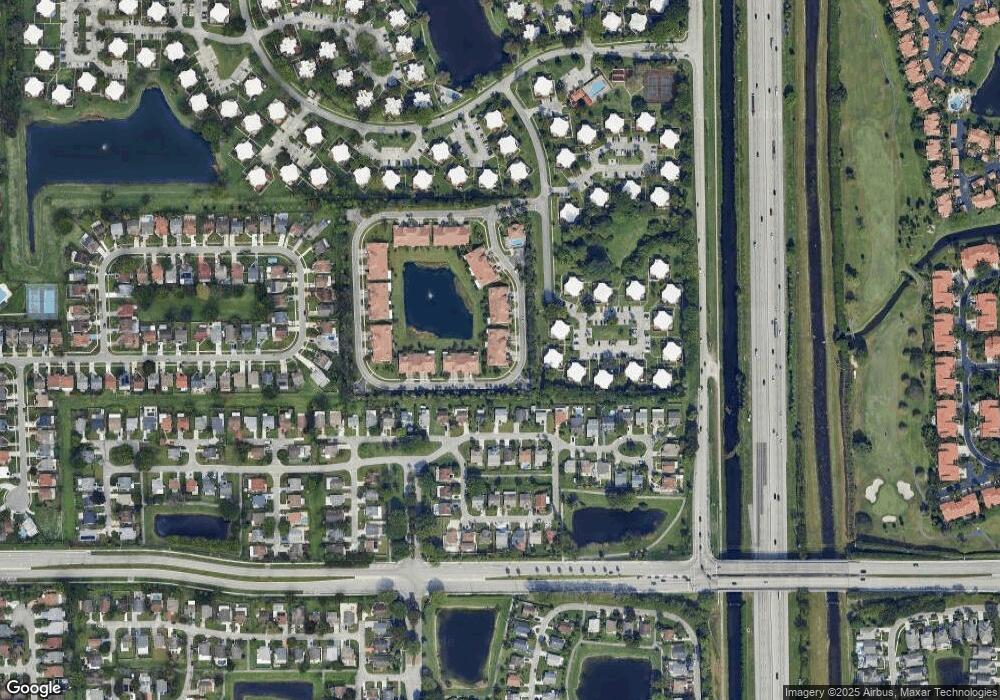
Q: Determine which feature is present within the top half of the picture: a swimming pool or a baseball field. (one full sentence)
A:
What appears within the top half of the picture is a swimming pool.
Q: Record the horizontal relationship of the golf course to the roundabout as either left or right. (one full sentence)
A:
The roundabout has the golf course on its right side.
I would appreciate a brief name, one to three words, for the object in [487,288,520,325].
building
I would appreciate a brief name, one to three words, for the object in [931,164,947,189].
house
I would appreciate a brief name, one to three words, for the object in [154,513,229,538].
pond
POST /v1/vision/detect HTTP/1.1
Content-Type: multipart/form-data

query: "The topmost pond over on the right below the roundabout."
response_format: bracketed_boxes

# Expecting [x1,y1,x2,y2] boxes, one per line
[571,506,665,548]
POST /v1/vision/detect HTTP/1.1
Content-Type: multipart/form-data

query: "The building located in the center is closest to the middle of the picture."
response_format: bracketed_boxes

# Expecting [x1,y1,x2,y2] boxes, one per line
[486,328,520,366]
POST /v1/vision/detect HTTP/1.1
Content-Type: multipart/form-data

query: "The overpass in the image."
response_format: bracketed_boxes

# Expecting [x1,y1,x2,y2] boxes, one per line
[715,558,851,592]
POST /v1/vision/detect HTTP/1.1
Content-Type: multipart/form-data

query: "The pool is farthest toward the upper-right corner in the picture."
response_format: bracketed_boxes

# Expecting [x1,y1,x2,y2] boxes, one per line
[947,88,971,112]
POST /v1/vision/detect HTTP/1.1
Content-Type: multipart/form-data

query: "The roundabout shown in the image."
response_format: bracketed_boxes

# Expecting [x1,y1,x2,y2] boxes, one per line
[612,434,651,462]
